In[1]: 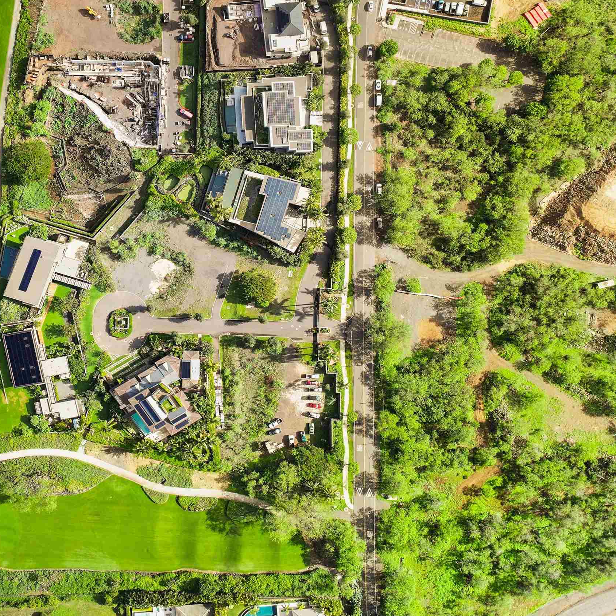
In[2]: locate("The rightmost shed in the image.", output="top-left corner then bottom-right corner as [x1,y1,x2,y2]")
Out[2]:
[523,3,550,27]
